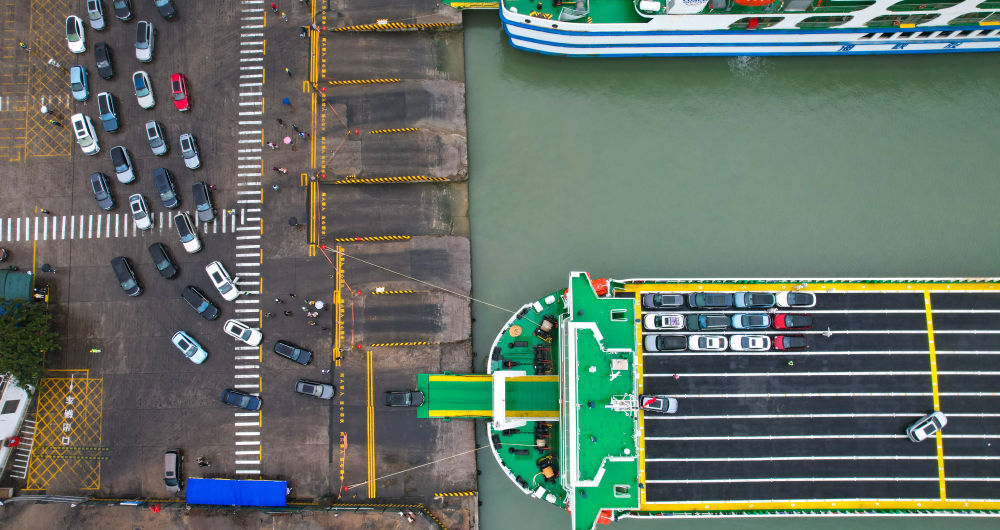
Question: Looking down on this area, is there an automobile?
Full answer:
Yes, there's an automobile down there.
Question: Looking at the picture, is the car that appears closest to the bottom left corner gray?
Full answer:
Yes, the car that appears closest to the bottom left corner is indeed gray.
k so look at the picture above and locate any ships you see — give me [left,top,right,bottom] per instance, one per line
[417,271,1000,530]
[443,0,1000,58]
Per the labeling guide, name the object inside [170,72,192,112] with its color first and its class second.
red car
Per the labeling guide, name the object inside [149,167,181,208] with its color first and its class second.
blue car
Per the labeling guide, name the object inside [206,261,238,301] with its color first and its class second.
white car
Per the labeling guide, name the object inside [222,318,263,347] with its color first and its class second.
white car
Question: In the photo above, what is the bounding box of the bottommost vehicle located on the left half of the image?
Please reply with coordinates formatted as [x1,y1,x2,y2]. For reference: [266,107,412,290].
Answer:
[162,451,184,491]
